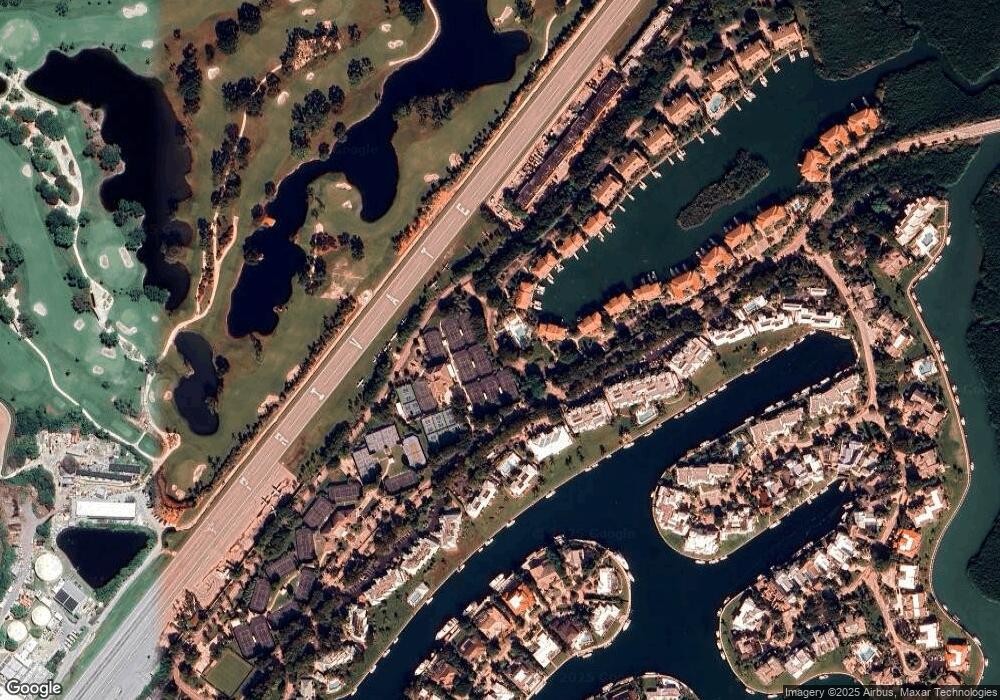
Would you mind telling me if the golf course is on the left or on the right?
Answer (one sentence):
The golf course sits on the left side.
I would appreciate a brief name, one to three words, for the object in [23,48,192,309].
pond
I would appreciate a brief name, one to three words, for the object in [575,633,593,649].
swimming pool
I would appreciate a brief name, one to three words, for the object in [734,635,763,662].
house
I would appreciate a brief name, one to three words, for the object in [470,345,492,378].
tennis court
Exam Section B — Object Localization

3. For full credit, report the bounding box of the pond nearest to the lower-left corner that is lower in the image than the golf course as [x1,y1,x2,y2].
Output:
[57,527,150,589]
